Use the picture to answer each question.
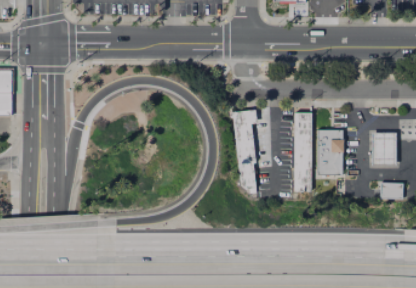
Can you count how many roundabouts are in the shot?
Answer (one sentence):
The photo contains no roundabouts.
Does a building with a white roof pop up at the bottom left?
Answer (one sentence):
No, there is no building with a white roof at the bottom left.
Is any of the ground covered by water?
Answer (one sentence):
No, the scene doesn't show any water.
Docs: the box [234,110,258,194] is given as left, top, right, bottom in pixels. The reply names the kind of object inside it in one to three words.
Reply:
building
